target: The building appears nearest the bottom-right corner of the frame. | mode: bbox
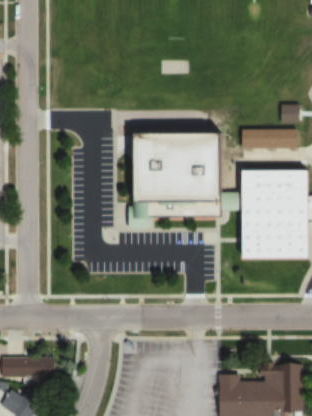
[219,364,304,416]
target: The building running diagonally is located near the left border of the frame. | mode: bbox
[0,382,37,416]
